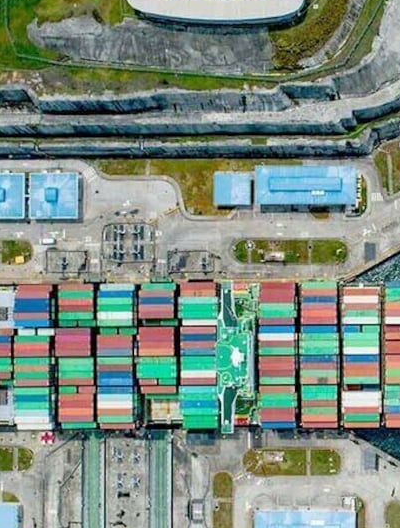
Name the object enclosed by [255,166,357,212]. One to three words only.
building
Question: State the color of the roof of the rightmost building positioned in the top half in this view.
blue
